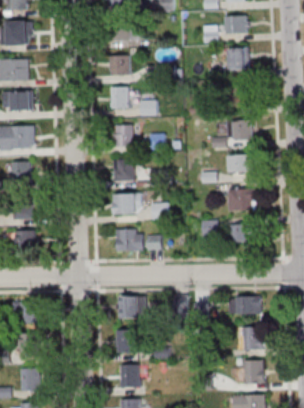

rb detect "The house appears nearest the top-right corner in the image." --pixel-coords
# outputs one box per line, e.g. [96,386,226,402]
[224,16,252,34]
